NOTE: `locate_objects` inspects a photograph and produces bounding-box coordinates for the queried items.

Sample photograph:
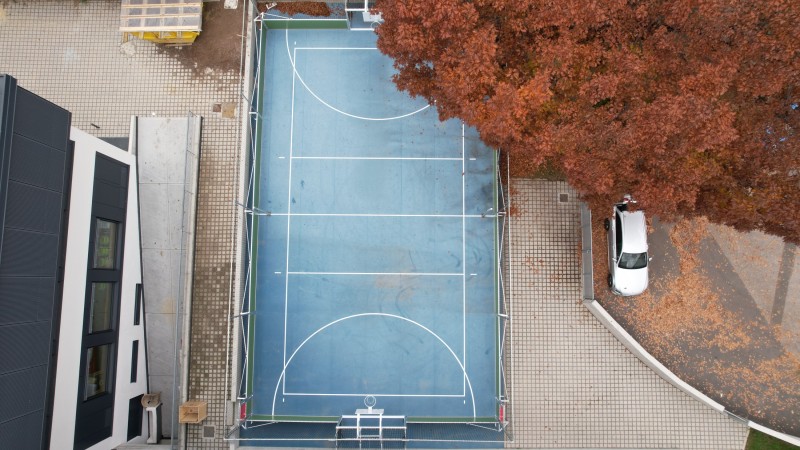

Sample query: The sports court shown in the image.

[245,3,505,447]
